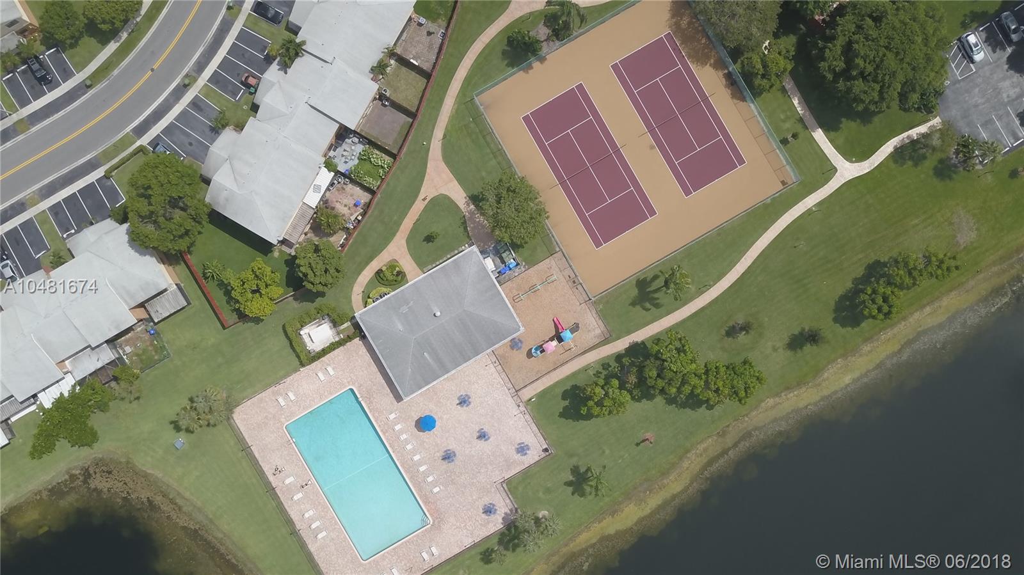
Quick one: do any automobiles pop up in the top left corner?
Yes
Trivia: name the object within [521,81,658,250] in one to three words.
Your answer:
tennis court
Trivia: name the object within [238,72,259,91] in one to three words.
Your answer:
car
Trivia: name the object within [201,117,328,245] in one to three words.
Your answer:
house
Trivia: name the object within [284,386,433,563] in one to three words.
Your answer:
swimming pool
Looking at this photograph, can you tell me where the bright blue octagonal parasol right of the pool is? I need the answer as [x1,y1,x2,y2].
[419,414,437,431]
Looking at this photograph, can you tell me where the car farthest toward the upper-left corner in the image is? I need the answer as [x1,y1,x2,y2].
[25,55,53,86]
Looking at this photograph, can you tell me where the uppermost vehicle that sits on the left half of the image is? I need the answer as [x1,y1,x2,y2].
[250,0,283,24]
